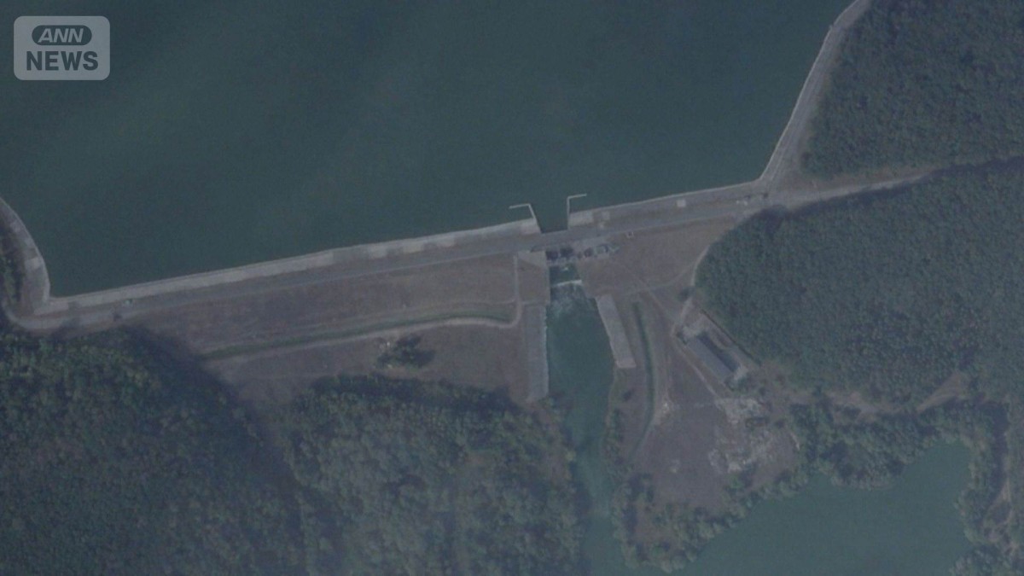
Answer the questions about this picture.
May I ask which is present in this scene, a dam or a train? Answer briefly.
dam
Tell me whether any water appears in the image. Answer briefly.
Yes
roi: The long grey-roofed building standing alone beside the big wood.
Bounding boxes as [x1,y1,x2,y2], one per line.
[688,337,733,382]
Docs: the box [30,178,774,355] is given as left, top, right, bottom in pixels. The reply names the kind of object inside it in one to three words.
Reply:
dam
